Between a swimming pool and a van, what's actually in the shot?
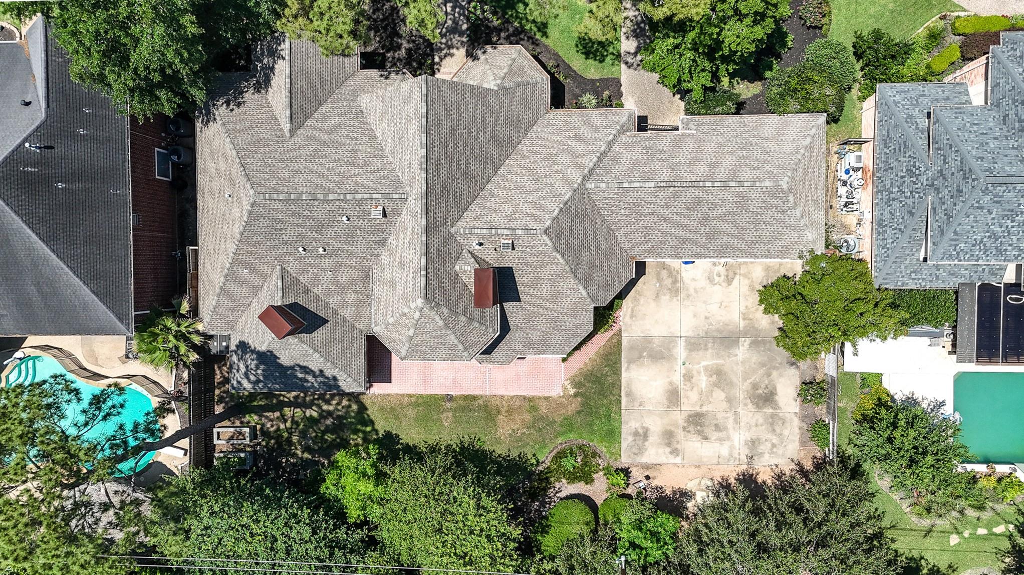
swimming pool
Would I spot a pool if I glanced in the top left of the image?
No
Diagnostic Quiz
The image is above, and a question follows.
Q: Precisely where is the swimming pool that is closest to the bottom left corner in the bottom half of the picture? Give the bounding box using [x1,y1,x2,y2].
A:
[0,349,164,484]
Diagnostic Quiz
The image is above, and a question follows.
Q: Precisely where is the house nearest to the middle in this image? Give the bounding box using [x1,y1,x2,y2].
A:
[193,20,829,394]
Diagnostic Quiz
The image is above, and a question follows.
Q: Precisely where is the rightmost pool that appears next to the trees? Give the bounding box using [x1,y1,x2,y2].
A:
[955,372,1024,477]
